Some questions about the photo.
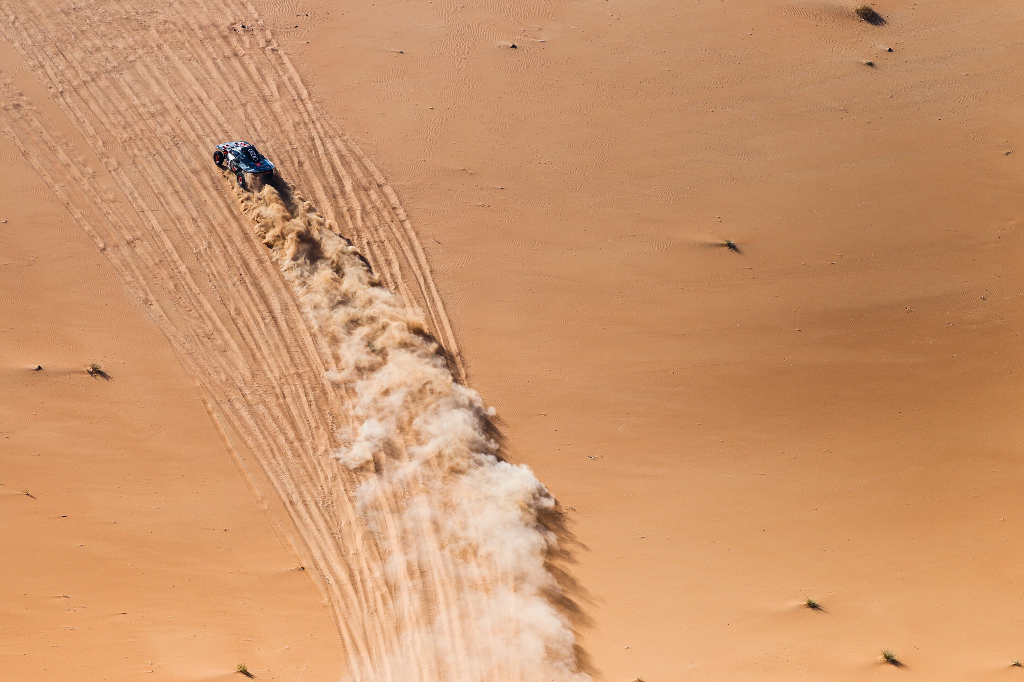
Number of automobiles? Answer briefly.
1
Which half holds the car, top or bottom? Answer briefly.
top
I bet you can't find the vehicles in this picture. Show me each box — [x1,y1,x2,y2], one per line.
[211,139,276,188]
